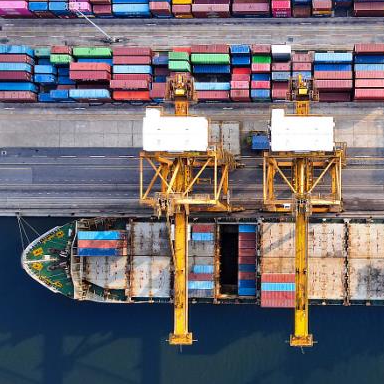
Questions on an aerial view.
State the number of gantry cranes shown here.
2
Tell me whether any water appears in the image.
Yes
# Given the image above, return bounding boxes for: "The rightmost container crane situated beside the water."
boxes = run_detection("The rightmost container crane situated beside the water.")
[258,71,348,355]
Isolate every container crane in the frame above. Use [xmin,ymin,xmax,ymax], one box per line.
[140,71,242,355]
[258,71,348,355]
